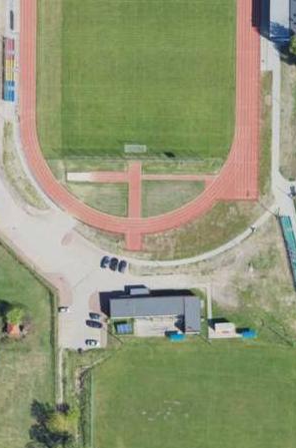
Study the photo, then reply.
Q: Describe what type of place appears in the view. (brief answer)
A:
sports ground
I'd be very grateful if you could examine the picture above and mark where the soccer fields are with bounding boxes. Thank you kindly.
[94,338,296,448]
[62,0,234,157]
